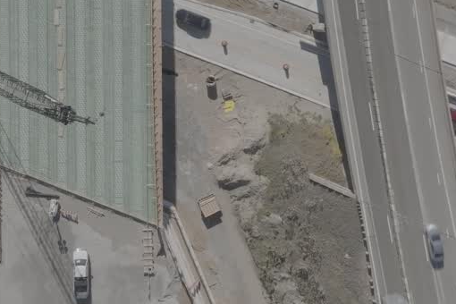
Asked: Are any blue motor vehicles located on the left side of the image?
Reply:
No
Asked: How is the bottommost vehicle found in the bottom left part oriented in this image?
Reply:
from top to bottom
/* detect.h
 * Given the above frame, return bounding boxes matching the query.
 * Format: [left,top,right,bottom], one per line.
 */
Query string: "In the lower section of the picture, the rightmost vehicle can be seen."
[424,224,445,265]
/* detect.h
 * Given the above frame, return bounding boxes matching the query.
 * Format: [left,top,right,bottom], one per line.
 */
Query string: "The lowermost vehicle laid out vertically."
[72,246,92,298]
